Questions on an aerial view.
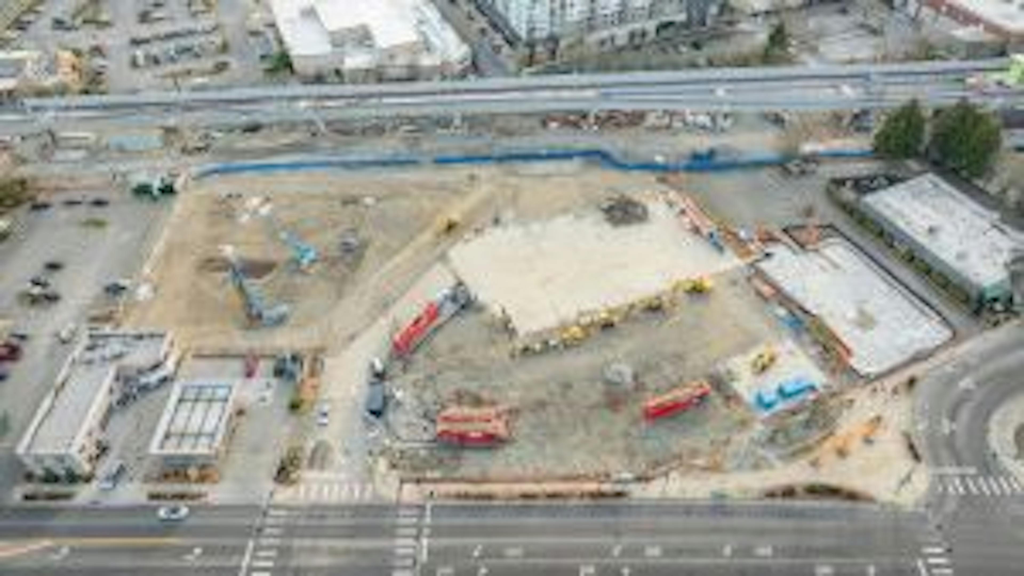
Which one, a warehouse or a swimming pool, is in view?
warehouse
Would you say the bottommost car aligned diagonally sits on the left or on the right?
left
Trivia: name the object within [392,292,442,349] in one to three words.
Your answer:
trailer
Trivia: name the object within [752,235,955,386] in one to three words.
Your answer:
warehouse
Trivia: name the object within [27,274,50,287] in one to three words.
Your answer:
vehicle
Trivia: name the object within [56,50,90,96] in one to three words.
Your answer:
building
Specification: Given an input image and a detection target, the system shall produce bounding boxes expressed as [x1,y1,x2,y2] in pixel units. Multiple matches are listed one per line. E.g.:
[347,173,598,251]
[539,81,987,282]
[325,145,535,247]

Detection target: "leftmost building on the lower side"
[17,330,180,477]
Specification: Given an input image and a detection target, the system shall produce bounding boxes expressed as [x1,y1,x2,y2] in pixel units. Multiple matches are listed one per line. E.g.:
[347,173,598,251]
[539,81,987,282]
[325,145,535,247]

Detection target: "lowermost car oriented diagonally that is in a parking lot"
[99,465,126,493]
